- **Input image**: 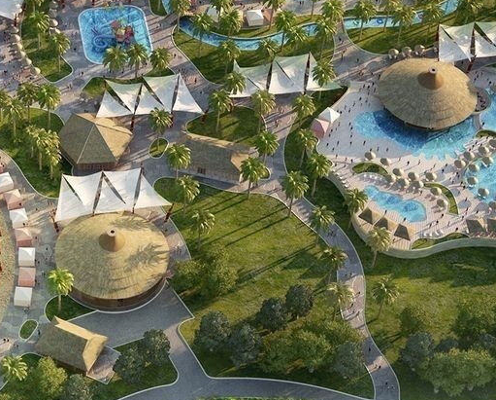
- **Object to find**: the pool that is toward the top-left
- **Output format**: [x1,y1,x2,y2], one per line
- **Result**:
[83,4,151,61]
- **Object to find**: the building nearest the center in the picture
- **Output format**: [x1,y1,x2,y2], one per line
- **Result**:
[180,136,256,180]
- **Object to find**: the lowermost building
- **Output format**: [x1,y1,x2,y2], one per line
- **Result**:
[35,317,106,378]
